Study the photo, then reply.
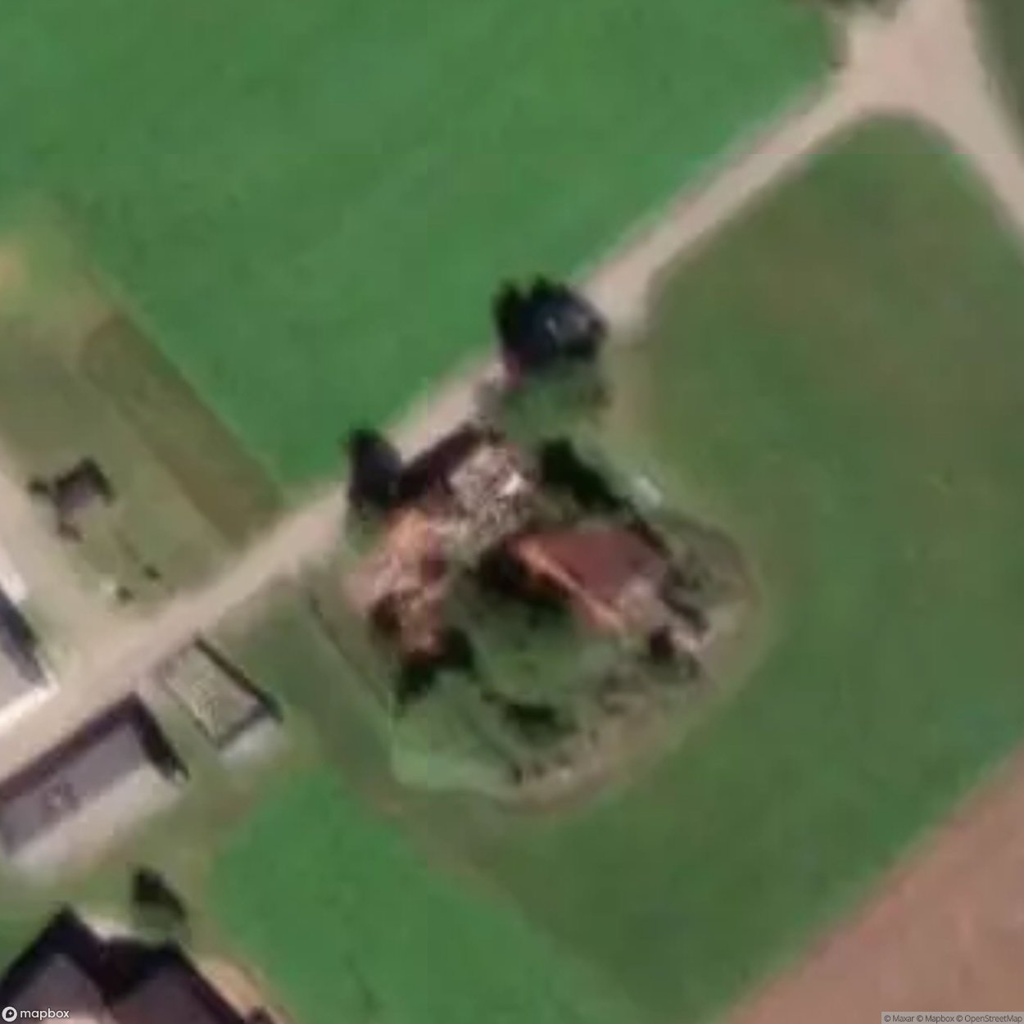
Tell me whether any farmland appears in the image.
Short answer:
Yes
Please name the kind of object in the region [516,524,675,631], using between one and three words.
house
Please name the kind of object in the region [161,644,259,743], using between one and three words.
shed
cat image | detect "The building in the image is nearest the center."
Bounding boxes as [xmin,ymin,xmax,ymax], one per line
[420,449,530,554]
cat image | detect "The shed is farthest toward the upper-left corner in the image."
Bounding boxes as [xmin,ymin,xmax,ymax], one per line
[53,474,101,522]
